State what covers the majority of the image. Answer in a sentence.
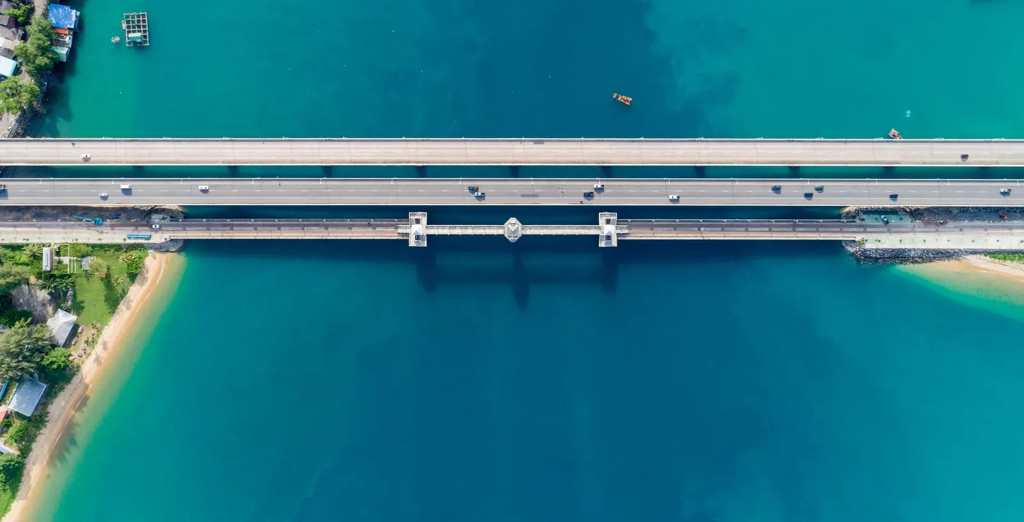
The scene is dominated by water.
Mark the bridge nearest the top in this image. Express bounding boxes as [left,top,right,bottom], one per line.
[0,137,1024,167]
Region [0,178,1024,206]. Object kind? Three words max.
bridge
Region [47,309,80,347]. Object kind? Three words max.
building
